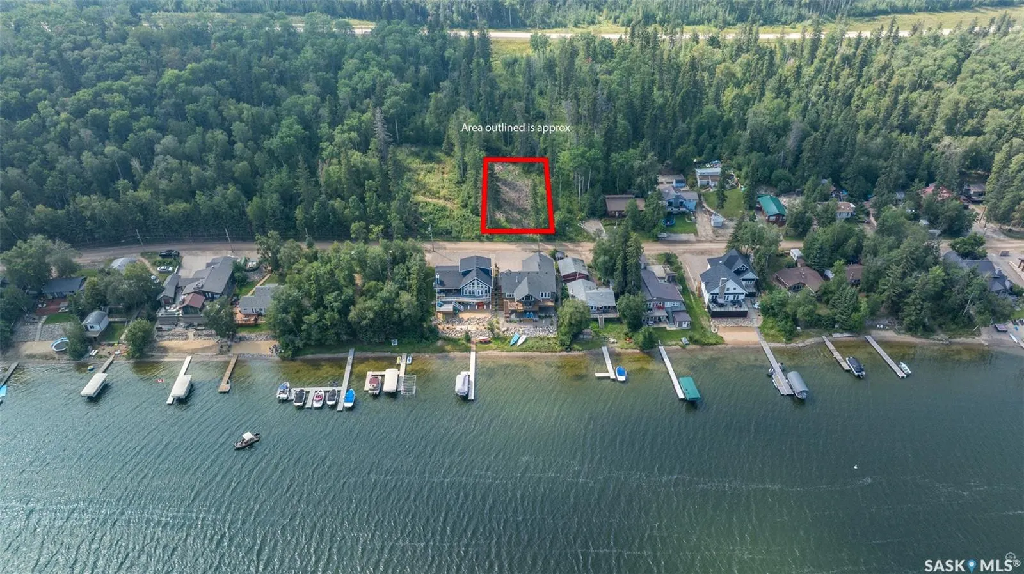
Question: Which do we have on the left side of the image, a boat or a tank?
boat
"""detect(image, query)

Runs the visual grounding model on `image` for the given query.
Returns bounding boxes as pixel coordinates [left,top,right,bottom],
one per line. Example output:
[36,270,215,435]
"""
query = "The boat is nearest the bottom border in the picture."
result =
[232,431,266,450]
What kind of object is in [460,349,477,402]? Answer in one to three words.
pier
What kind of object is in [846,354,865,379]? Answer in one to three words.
boat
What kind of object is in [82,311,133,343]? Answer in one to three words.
building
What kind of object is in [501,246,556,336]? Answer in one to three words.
house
